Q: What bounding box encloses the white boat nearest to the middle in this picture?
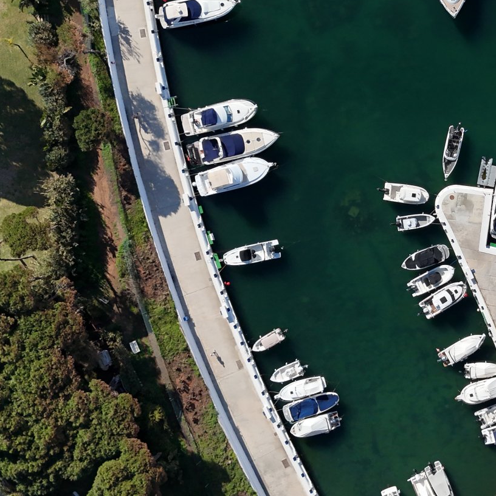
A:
[221,238,282,265]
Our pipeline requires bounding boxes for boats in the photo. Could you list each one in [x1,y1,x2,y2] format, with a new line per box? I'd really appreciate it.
[453,376,496,405]
[471,404,496,430]
[374,182,431,205]
[274,372,328,401]
[153,0,241,31]
[270,358,308,383]
[188,127,280,163]
[190,158,275,196]
[477,425,496,445]
[423,457,458,496]
[252,326,287,351]
[221,238,282,265]
[291,410,342,439]
[409,469,433,496]
[403,265,455,299]
[283,392,341,424]
[432,333,486,369]
[460,359,496,381]
[413,284,470,319]
[383,481,400,496]
[389,211,438,231]
[181,103,259,135]
[442,116,465,181]
[399,243,450,269]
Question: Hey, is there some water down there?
Yes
